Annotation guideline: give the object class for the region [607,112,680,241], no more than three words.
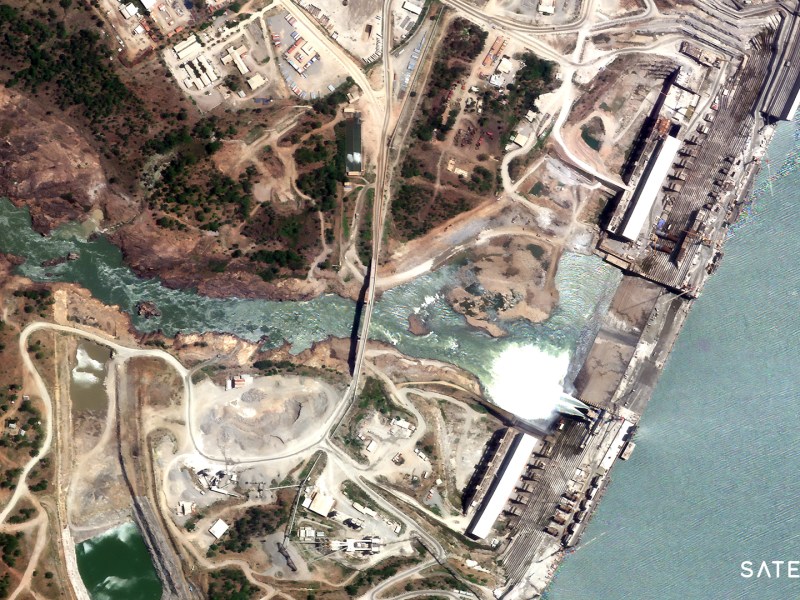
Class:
building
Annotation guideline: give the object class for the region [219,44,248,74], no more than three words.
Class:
building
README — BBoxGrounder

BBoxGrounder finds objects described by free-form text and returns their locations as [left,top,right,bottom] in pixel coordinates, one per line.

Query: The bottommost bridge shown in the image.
[349,249,379,387]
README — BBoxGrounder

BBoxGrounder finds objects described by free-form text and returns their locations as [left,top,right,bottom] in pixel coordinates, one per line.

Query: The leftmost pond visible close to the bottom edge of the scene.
[77,520,163,600]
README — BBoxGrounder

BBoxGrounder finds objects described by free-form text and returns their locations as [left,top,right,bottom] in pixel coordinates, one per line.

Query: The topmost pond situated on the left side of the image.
[70,339,116,412]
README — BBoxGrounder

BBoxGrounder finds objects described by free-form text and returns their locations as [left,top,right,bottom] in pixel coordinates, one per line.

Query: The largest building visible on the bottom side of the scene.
[463,424,537,539]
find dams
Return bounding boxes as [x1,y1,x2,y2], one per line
[491,0,800,600]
